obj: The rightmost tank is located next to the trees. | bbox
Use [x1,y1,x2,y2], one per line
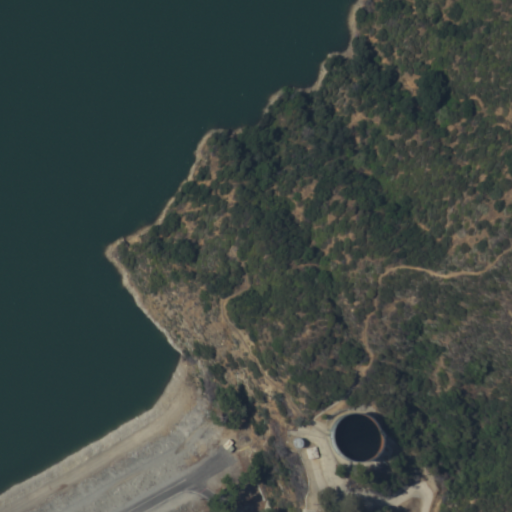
[328,408,384,464]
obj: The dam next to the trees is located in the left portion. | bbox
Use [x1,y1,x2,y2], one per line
[0,352,229,512]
